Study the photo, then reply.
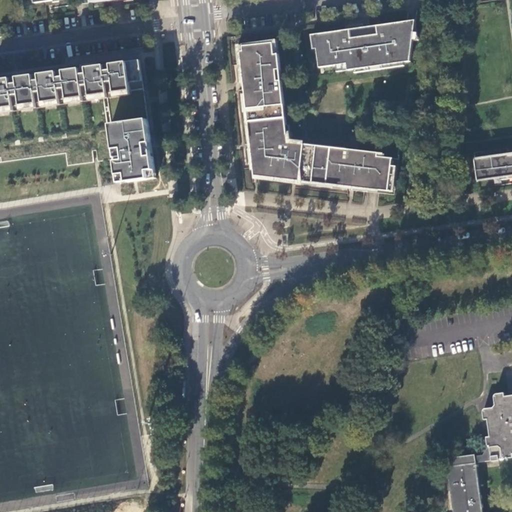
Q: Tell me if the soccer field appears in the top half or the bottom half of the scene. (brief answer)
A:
bottom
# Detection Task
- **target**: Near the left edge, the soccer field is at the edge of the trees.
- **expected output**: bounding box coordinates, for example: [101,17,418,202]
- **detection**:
[0,194,150,512]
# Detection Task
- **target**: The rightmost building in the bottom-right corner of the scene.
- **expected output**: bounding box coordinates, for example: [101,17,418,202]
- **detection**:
[475,392,512,463]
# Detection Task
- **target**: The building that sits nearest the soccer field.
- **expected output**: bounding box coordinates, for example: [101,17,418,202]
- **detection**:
[106,118,157,188]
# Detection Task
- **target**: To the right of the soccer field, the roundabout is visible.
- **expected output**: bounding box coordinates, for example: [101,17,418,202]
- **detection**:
[176,229,252,304]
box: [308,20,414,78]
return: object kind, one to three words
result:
building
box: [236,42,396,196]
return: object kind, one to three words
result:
building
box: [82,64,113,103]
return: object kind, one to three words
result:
house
